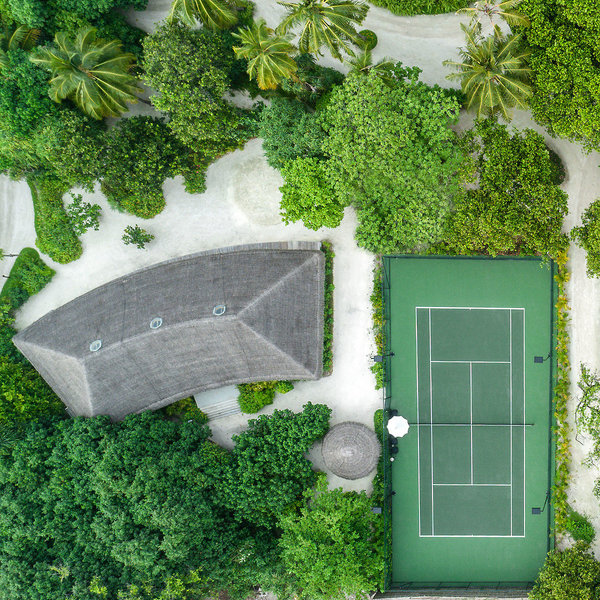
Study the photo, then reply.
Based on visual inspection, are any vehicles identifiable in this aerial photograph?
No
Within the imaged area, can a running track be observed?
No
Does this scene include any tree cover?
Yes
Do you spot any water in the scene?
No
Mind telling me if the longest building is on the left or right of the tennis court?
left of it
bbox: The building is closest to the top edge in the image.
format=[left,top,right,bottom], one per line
[12,241,325,424]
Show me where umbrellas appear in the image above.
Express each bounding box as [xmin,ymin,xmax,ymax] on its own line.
[387,415,410,438]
